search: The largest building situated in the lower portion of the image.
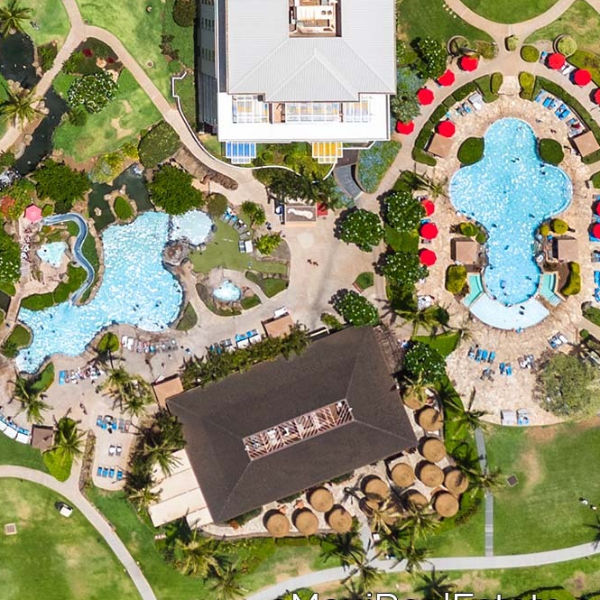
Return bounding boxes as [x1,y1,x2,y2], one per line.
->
[166,323,418,524]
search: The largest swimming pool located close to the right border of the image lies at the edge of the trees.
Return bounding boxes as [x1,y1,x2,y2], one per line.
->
[447,115,575,333]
